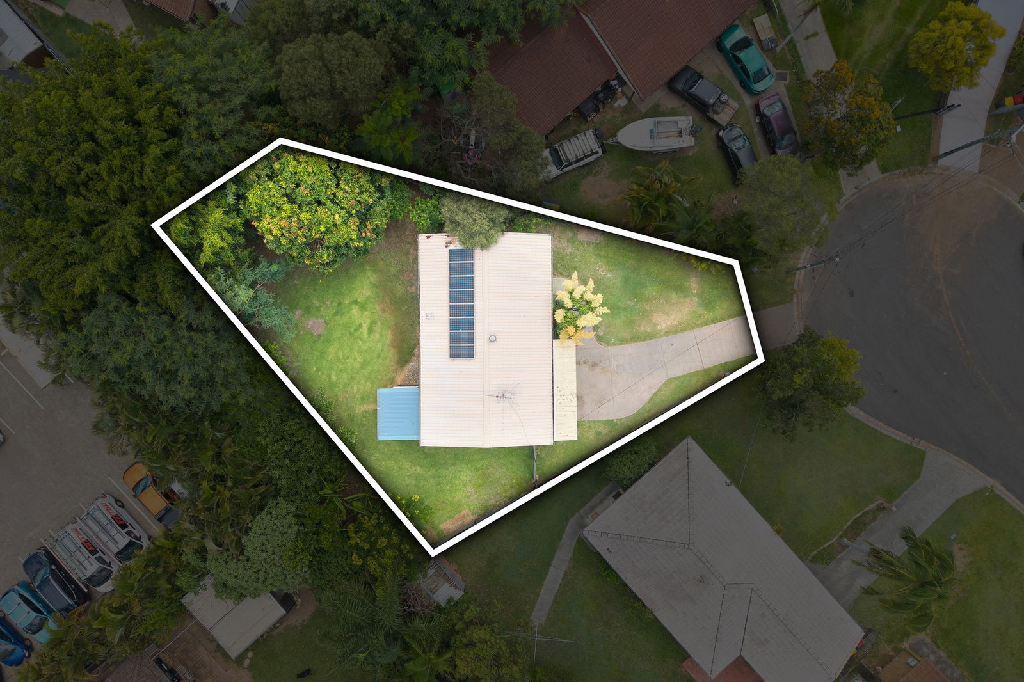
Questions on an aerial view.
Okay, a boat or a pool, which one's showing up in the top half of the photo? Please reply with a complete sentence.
Looking in the top half of the photo, you will find a boat.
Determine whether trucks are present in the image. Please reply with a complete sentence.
Yes, a truck is visible in the scene.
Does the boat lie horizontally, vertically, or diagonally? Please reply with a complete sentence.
The boat is laid out horizontally.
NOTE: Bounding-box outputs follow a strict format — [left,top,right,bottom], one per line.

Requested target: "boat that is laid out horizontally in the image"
[617,111,711,146]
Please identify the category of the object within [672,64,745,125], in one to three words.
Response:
truck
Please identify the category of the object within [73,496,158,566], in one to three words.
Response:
van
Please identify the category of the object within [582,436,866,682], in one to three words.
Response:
house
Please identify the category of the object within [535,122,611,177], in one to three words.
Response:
car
